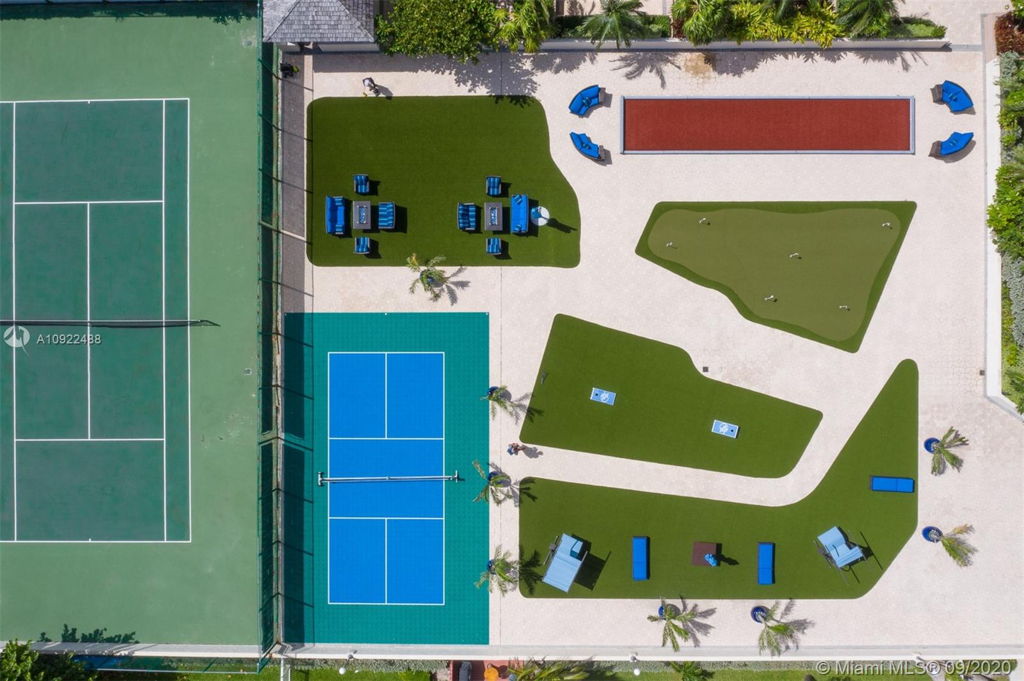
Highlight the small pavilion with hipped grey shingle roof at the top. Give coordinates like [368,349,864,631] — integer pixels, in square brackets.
[263,0,385,51]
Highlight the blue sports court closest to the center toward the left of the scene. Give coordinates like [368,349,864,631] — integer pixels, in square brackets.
[284,312,490,645]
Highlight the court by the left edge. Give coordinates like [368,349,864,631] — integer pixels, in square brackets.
[0,1,277,643]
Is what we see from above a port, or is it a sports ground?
sports ground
